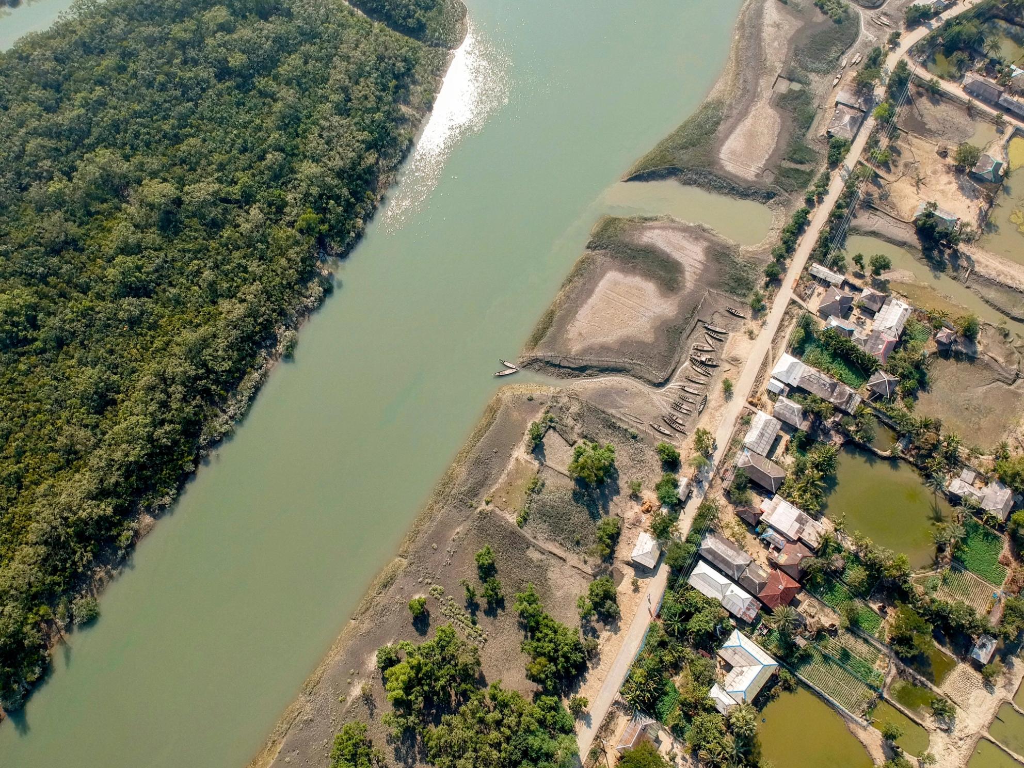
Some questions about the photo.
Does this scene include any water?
Yes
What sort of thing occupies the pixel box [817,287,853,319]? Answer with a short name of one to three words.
house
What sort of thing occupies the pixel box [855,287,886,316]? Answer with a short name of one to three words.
house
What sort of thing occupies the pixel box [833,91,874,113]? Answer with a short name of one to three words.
shed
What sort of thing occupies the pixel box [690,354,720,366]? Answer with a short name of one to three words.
boat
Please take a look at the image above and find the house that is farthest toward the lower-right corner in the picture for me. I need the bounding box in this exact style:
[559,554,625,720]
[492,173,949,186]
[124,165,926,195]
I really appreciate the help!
[966,634,998,664]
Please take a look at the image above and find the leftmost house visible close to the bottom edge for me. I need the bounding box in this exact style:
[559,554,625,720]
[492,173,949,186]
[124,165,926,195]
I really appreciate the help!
[615,712,660,759]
